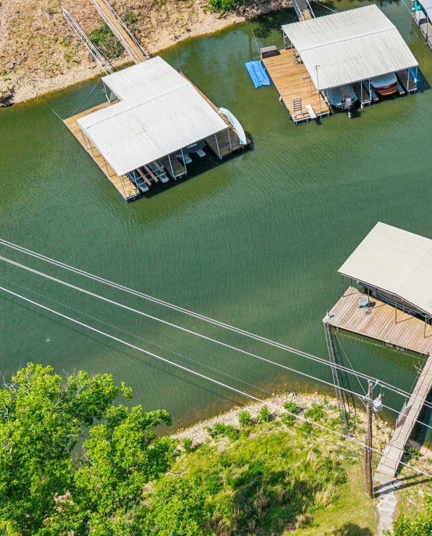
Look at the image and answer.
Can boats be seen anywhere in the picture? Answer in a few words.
Yes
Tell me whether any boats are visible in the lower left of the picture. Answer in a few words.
No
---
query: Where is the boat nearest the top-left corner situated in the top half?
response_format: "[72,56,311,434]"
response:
[175,141,206,165]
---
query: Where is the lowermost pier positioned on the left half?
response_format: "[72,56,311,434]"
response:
[63,55,251,204]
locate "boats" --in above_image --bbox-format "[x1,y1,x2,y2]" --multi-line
[322,85,353,112]
[175,141,206,165]
[365,74,396,99]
